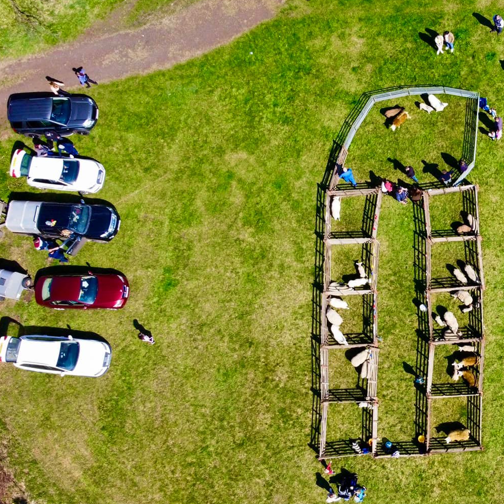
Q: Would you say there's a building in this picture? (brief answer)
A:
No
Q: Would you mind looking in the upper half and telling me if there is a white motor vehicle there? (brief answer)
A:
Yes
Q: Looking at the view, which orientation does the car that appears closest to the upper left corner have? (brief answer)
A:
horizontally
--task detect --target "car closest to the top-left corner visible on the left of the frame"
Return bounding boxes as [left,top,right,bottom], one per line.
[3,93,99,137]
